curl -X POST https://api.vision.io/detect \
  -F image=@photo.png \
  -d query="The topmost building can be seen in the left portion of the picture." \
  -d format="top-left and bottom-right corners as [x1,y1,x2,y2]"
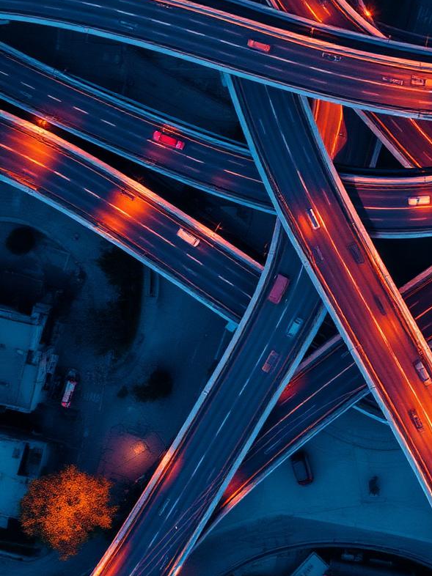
[0,294,65,408]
